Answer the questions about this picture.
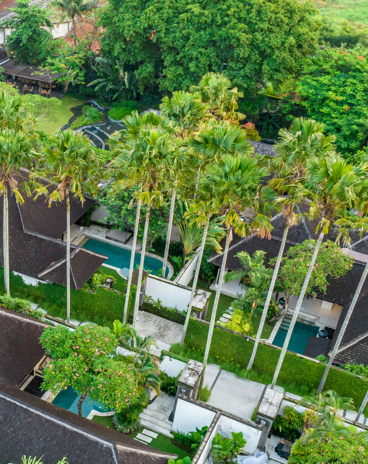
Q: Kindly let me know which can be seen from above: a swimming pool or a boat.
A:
swimming pool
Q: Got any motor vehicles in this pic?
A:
No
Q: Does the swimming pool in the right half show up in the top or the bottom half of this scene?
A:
bottom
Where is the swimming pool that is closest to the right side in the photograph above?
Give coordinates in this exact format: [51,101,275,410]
[267,320,318,351]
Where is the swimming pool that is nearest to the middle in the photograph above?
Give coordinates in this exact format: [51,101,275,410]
[74,235,177,282]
